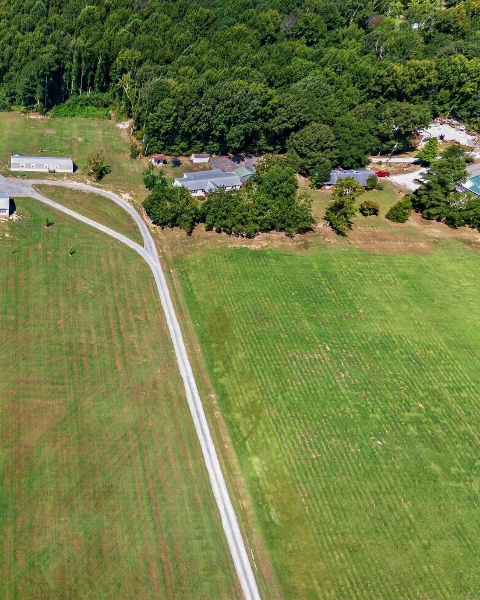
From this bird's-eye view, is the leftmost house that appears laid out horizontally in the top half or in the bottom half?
top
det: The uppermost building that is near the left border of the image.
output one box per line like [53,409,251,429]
[10,156,73,176]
